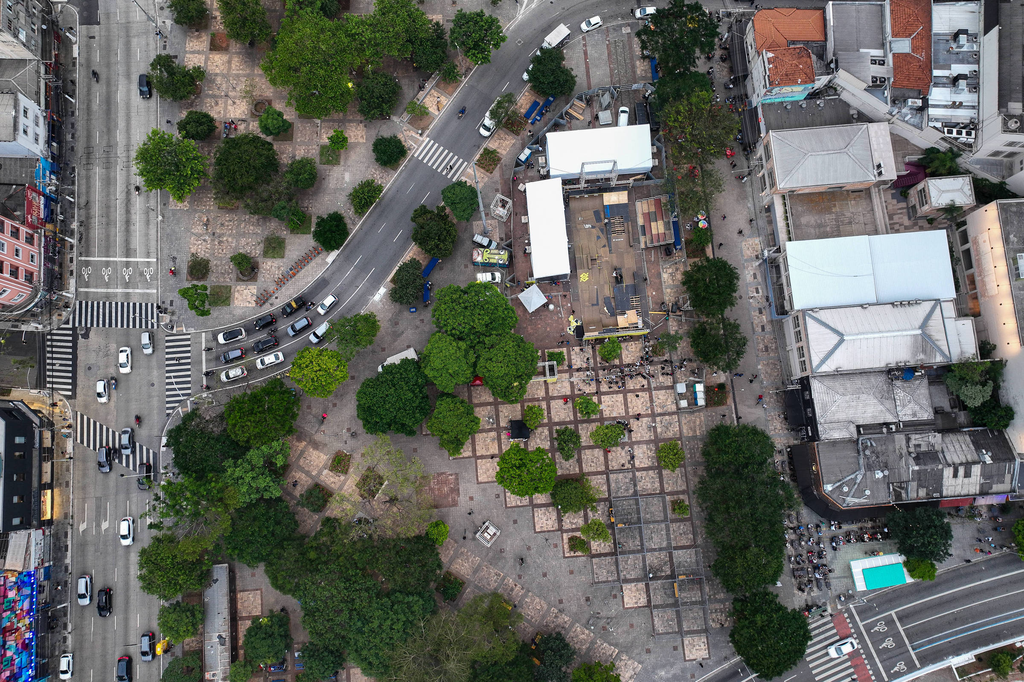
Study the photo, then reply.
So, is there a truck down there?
Yes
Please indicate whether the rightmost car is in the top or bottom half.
bottom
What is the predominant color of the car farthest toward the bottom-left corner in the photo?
white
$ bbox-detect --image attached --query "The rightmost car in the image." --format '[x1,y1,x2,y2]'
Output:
[824,636,861,659]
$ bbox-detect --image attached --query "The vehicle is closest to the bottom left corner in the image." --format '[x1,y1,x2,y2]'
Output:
[57,649,77,682]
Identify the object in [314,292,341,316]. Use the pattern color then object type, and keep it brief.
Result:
white car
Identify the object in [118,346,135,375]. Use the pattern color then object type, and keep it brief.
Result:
white car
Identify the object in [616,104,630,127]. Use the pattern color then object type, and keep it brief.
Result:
white vehicle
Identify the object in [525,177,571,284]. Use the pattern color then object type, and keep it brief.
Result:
white tent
